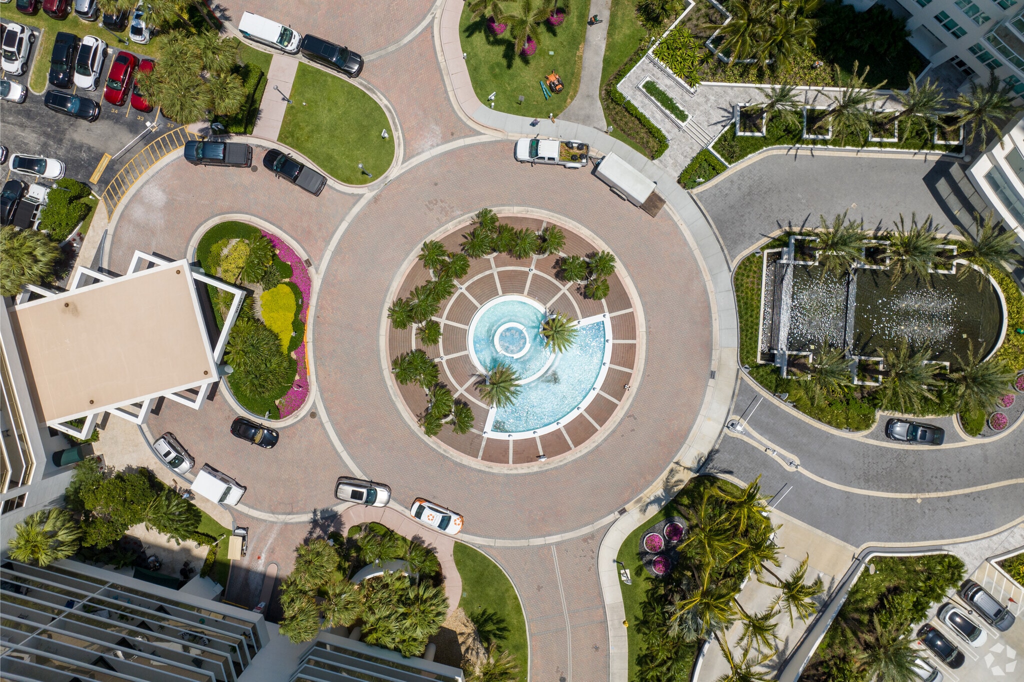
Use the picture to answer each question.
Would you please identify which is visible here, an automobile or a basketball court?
automobile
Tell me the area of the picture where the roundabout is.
center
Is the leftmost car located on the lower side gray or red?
gray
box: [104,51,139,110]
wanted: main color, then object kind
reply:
red car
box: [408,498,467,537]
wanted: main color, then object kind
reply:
white car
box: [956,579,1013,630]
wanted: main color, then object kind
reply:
gray car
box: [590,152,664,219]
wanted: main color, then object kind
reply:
white trailer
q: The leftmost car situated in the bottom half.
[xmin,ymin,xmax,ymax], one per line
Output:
[152,429,199,479]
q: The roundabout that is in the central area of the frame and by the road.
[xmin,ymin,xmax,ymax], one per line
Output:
[307,131,718,551]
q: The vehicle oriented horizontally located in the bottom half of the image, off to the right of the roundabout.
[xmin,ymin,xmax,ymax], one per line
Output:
[882,417,945,445]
